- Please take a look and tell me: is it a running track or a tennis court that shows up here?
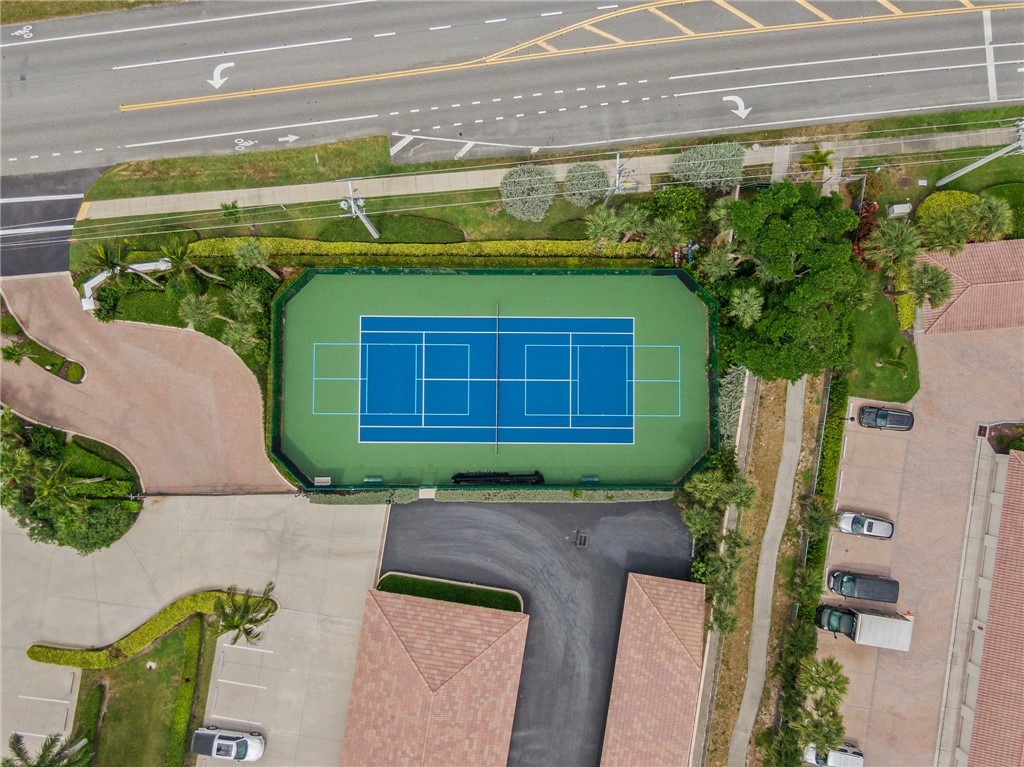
tennis court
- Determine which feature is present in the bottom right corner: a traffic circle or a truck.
truck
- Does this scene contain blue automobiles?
No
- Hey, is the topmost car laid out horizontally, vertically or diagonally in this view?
horizontally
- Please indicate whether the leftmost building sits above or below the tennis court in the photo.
below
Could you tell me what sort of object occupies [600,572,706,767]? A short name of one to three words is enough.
building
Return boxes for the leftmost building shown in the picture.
[339,589,530,767]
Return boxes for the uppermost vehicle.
[856,404,914,432]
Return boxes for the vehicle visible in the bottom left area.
[190,726,266,765]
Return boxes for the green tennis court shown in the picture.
[283,275,709,486]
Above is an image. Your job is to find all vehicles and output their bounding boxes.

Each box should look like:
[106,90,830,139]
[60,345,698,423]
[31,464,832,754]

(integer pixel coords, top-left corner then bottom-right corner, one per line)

[836,512,894,539]
[815,602,913,650]
[190,726,266,765]
[856,404,914,432]
[826,569,900,604]
[804,741,870,767]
